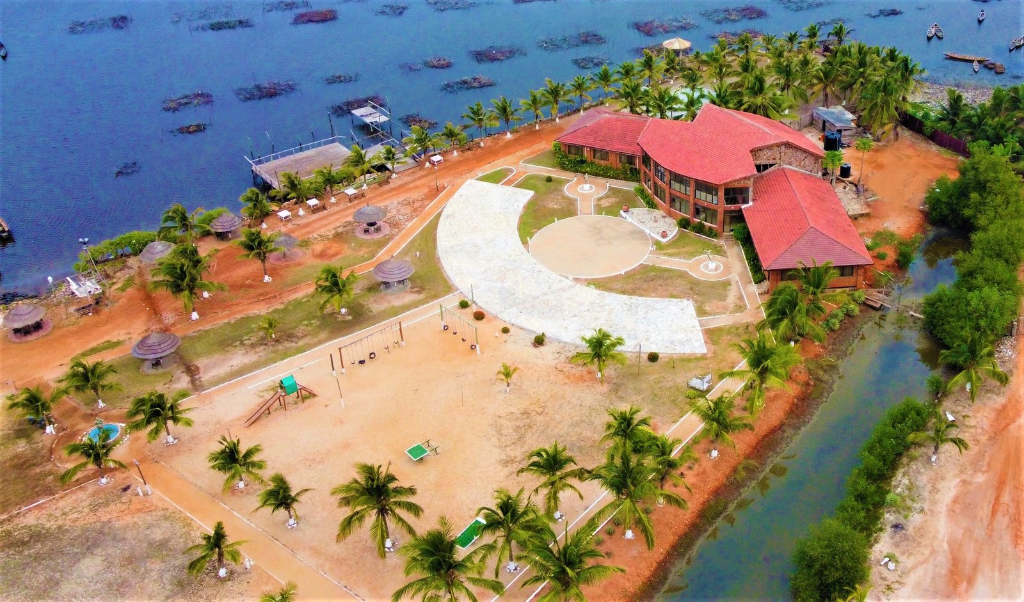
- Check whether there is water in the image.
Yes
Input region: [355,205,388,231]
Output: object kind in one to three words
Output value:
umbrella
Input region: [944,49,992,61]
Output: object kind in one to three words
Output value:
boat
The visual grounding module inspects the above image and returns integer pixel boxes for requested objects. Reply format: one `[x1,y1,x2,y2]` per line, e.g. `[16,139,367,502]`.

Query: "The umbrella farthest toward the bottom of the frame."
[129,336,179,366]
